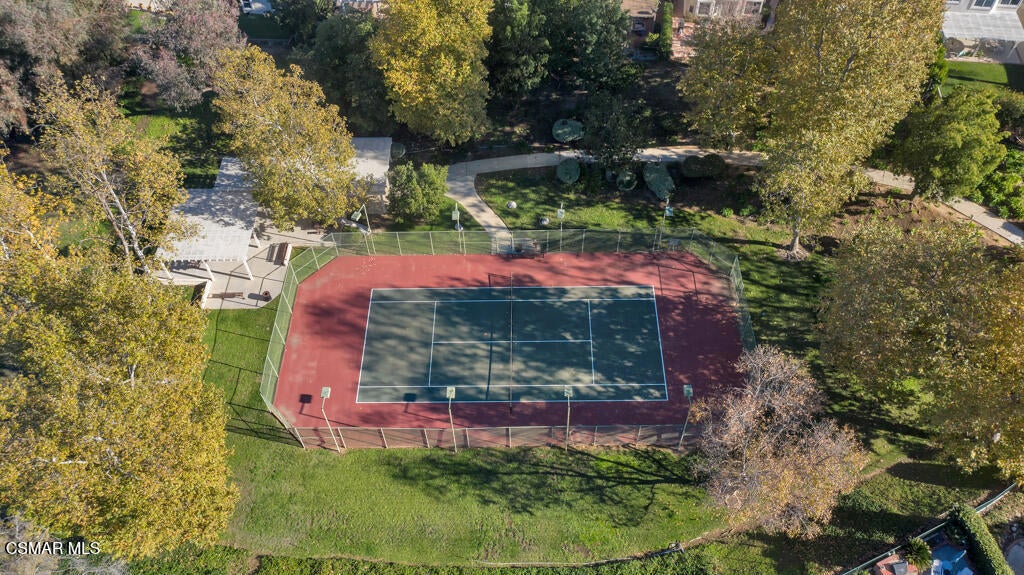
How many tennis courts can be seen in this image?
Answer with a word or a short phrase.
1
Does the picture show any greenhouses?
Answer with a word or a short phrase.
No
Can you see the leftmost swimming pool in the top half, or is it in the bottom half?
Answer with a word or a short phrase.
bottom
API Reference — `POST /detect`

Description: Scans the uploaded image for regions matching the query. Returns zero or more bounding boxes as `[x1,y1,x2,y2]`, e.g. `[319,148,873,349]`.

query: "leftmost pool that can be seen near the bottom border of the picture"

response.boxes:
[926,535,976,575]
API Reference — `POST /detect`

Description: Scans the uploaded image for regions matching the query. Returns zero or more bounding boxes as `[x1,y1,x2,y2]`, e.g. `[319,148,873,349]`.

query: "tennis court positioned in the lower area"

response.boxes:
[270,250,754,448]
